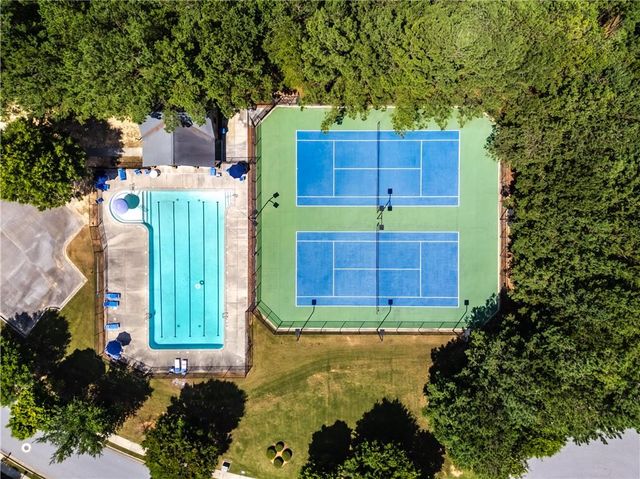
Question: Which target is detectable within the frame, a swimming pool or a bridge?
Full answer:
This aerial view contains a swimming pool.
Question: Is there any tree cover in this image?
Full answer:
Yes, there is tree cover in the image.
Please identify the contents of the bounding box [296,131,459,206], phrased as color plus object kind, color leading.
blue tennis court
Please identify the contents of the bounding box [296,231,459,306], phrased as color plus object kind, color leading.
blue tennis court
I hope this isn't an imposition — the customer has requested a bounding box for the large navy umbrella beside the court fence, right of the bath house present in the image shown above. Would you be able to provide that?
[228,161,248,180]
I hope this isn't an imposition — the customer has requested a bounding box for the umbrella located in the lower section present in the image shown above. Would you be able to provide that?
[106,339,124,356]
